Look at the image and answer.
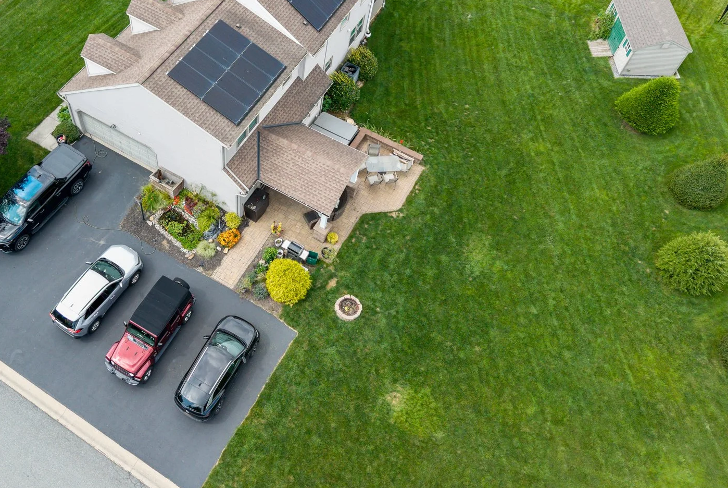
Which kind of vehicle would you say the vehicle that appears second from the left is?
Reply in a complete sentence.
It looks like the vehicle that appears second from the left is a car.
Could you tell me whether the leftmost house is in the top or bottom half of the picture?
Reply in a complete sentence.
You can find the leftmost house in the top half.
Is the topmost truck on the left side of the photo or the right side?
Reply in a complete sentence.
The topmost truck is on the left side of the image.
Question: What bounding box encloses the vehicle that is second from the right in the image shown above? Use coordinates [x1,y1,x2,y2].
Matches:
[102,279,194,386]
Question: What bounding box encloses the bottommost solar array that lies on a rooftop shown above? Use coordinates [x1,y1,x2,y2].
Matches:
[168,19,285,123]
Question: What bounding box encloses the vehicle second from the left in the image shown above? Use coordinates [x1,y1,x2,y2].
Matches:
[50,243,143,340]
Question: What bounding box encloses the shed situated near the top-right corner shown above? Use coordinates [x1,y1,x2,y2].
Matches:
[596,0,693,79]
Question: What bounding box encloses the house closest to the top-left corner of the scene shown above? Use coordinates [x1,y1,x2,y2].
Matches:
[54,0,387,214]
